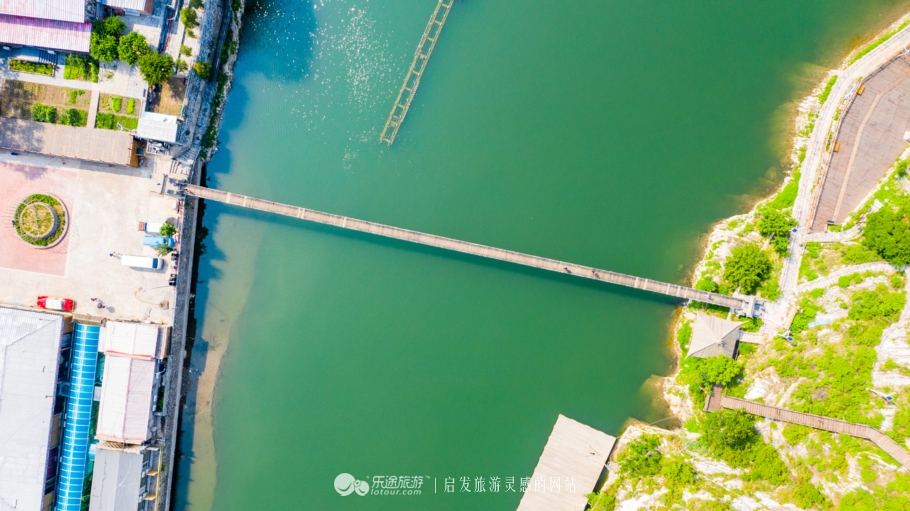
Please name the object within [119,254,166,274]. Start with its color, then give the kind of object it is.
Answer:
white vehicle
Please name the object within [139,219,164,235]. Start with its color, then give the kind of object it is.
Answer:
white vehicle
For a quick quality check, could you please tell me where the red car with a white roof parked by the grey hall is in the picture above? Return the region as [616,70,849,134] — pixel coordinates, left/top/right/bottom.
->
[36,295,75,313]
